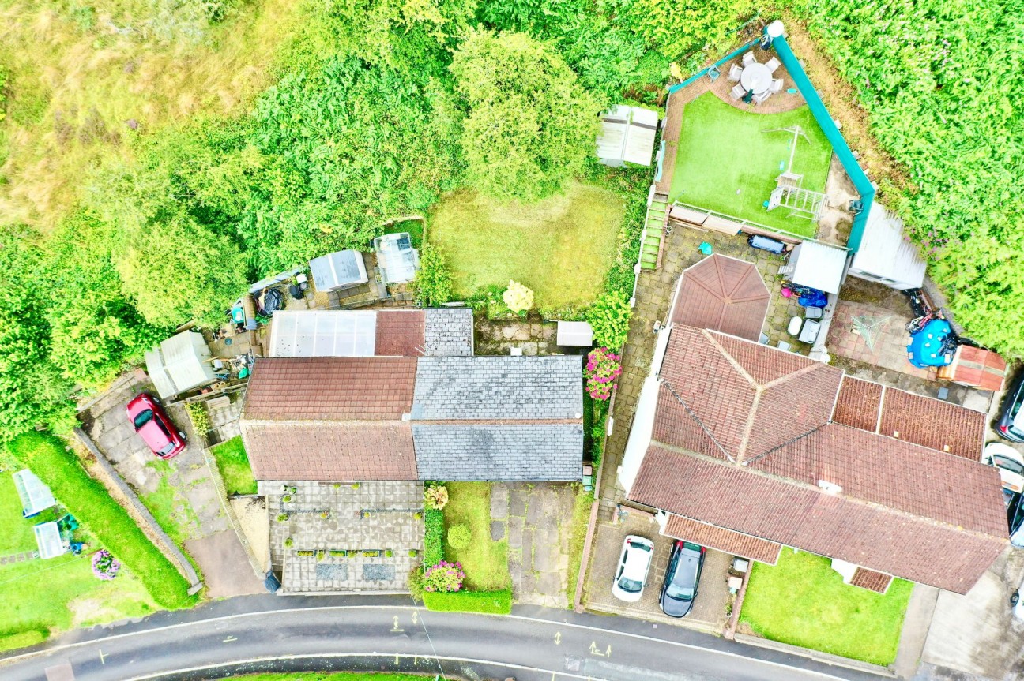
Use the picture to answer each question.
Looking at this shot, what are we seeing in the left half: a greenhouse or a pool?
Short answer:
greenhouse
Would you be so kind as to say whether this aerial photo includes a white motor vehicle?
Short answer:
Yes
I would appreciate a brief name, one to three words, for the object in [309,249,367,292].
shed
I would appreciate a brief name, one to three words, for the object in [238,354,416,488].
house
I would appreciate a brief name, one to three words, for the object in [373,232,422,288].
greenhouse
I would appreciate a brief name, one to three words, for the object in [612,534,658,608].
car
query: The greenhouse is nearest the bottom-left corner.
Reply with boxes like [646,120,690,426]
[33,519,76,560]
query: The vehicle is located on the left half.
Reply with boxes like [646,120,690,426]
[122,392,182,466]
